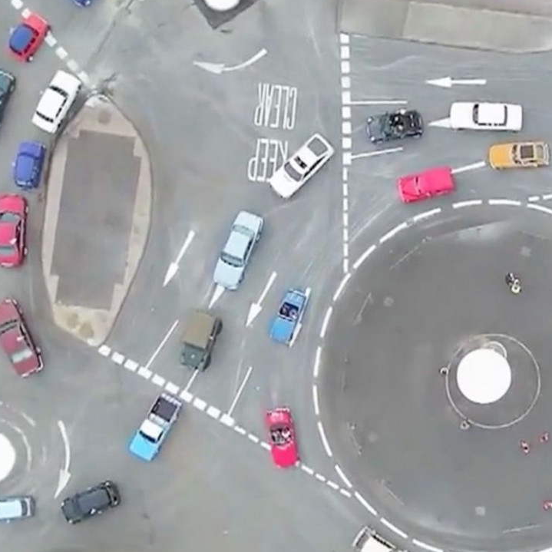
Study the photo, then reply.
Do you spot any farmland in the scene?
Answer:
No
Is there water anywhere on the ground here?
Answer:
No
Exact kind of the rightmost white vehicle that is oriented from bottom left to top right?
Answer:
car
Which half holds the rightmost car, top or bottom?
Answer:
top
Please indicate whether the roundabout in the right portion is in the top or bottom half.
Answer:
bottom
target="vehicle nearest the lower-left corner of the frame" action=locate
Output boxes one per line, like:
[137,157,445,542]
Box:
[0,495,37,521]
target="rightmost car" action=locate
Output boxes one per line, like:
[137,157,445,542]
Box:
[489,136,550,168]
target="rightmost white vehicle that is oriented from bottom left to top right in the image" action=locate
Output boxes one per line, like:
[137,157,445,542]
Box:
[270,134,334,199]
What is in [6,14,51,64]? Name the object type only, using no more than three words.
car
